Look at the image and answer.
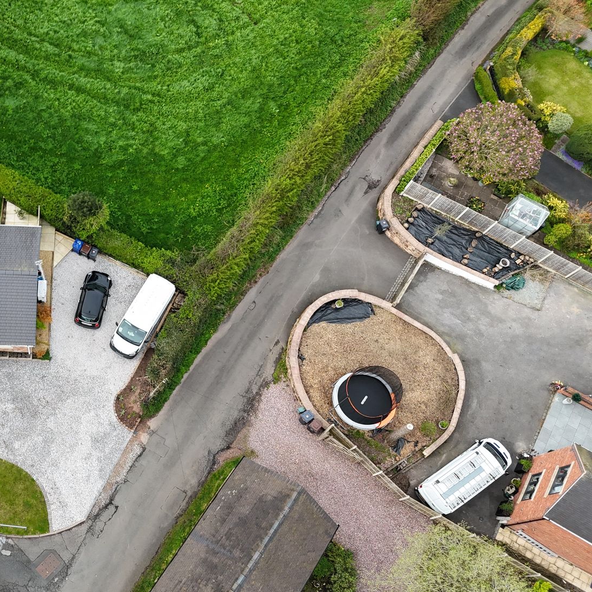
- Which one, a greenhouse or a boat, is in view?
greenhouse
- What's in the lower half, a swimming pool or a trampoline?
trampoline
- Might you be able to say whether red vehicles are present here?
No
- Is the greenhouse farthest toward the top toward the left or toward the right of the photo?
right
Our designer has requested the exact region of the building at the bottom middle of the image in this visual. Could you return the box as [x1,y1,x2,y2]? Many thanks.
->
[150,456,340,592]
